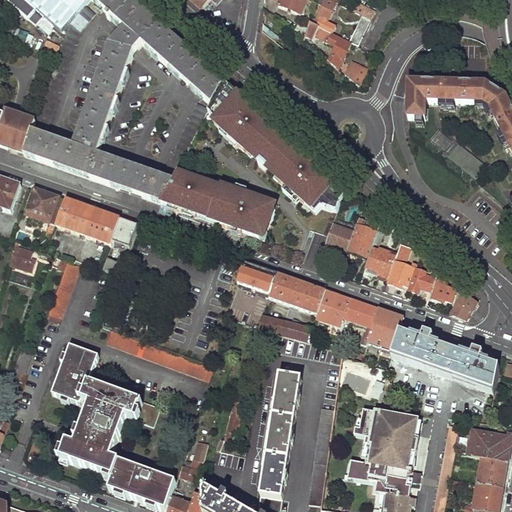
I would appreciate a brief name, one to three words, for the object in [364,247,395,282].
house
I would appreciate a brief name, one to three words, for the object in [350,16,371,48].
building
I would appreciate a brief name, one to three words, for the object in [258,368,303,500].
building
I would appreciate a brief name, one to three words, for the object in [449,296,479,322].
house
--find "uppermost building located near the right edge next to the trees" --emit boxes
[406,76,512,150]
